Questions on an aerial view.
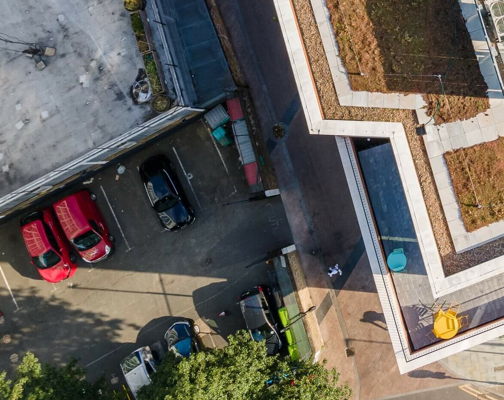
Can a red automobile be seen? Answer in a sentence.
Yes, looking at the shot, I can spot a red automobile.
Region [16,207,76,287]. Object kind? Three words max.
car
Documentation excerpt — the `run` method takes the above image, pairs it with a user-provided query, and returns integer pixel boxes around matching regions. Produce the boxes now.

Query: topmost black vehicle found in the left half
[140,152,199,234]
